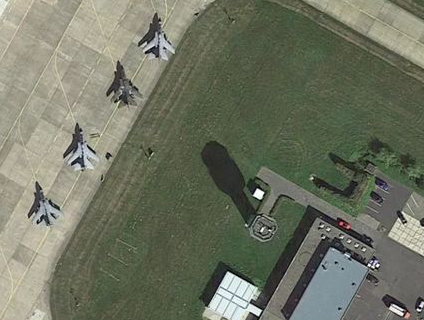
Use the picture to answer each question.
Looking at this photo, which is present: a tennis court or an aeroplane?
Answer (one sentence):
It is an aeroplane that can be seen here.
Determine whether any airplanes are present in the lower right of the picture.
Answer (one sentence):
No, I can find no airplane in the lower right of the picture.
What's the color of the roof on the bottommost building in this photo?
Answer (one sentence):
The roof over the bottommost building appears white.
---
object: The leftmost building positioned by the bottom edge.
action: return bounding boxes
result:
[207,271,261,320]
